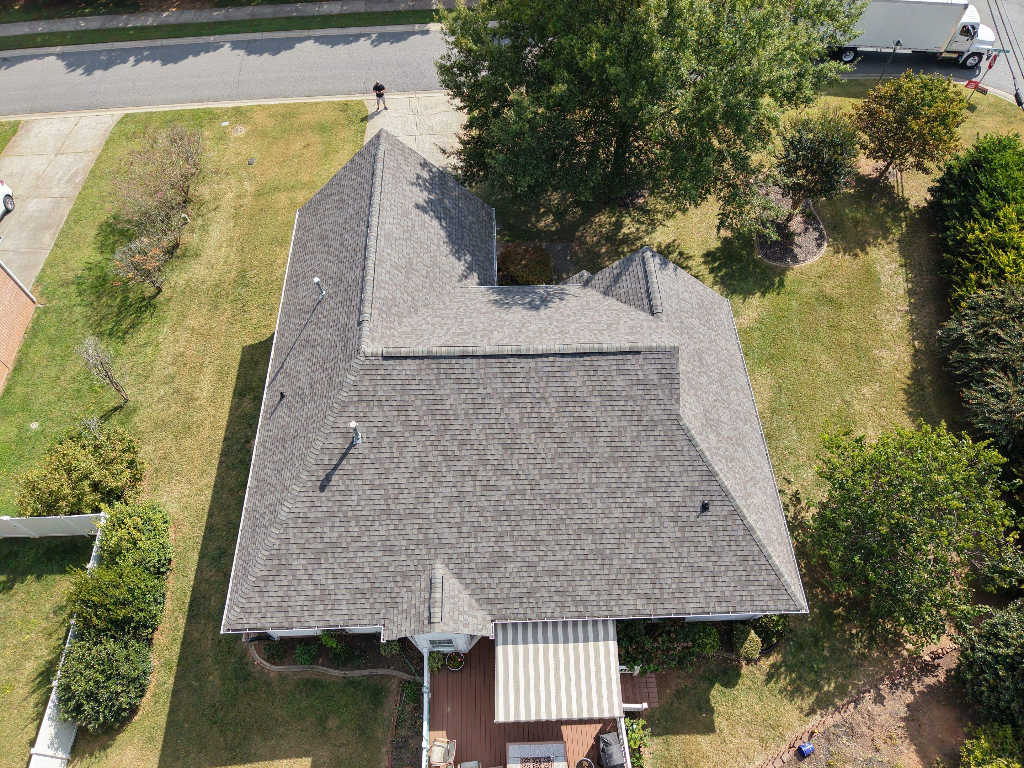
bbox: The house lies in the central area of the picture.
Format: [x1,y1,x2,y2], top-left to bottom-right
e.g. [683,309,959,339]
[223,130,807,657]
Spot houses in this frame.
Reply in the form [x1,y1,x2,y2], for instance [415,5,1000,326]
[223,130,807,657]
[0,259,37,392]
